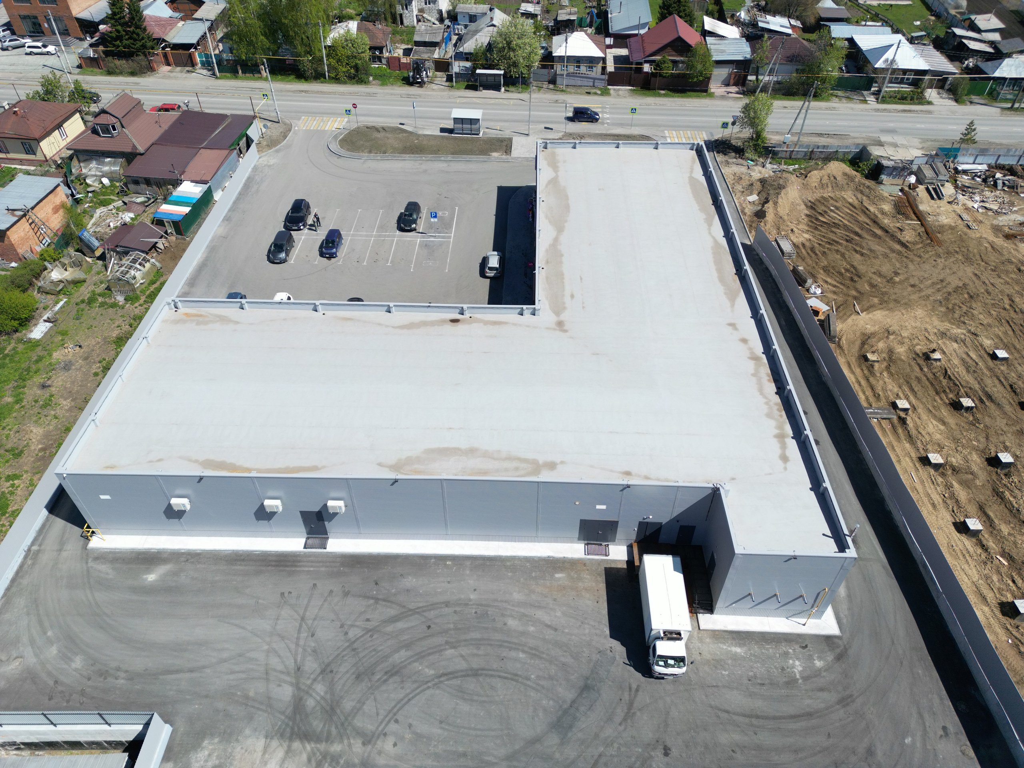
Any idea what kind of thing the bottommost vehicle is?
truck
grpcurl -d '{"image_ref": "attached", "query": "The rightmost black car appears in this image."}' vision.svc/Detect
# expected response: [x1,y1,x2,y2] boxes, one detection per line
[571,104,601,121]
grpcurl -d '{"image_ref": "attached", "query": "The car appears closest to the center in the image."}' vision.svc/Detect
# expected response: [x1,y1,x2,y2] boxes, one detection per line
[484,247,505,274]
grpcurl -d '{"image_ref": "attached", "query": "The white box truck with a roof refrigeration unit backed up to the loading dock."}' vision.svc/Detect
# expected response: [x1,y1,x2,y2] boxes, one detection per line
[639,556,696,681]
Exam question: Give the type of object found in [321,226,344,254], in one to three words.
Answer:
car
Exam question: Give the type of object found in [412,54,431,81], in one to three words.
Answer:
work vehicle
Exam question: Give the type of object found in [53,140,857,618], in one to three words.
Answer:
building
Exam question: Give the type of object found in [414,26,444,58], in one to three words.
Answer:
shed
